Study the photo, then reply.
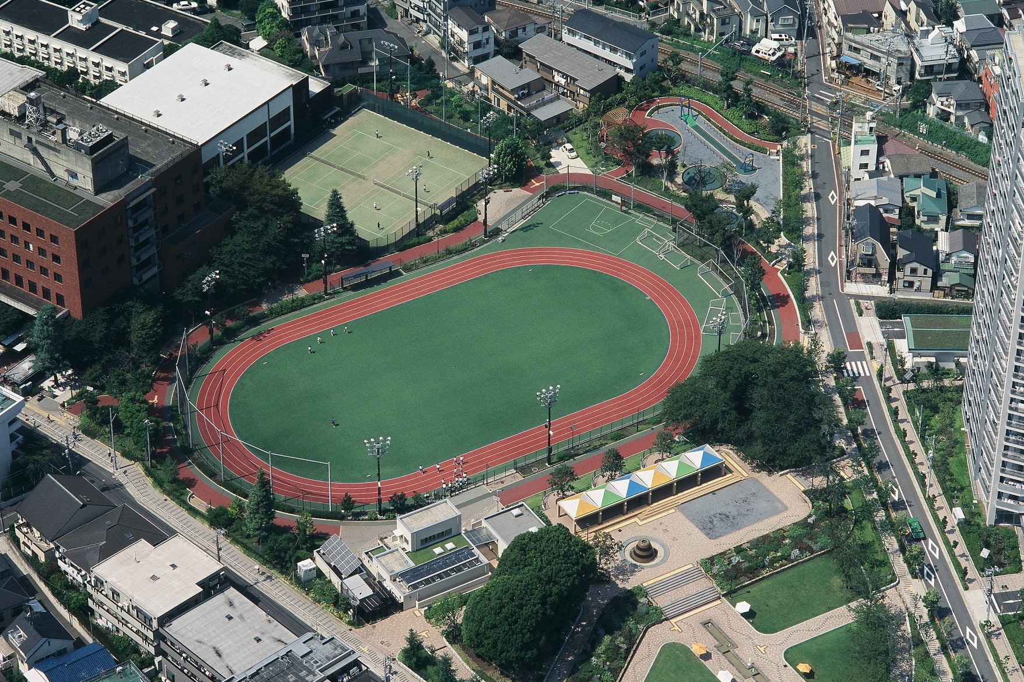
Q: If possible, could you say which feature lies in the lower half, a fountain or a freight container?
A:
fountain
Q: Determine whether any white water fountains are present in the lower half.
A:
No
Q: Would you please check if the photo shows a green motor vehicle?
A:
Yes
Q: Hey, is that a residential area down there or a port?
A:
residential area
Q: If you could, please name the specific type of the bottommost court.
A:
basketball court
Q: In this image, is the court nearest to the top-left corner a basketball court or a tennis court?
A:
tennis court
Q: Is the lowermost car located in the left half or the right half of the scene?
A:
right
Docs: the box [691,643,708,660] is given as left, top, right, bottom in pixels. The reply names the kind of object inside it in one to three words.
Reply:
umbrella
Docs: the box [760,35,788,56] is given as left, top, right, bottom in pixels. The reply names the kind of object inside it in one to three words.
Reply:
vehicle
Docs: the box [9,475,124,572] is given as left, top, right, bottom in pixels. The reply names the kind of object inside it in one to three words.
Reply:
house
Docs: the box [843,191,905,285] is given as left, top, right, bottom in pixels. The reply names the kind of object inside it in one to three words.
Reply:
house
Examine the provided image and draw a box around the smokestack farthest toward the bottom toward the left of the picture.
[54,122,68,143]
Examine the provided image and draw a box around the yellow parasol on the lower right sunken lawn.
[796,663,812,680]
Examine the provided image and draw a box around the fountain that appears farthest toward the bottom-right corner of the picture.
[623,540,666,571]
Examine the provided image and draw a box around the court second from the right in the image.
[340,156,467,238]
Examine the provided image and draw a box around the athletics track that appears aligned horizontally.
[199,247,698,503]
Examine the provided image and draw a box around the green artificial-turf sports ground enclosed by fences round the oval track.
[189,191,745,510]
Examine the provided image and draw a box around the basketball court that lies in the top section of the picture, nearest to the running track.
[551,199,637,255]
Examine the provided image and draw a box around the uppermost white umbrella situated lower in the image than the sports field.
[735,602,751,619]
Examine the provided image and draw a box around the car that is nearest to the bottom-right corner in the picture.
[906,518,927,541]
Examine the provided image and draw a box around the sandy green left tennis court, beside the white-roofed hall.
[272,129,401,209]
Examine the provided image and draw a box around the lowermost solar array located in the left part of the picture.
[321,534,361,577]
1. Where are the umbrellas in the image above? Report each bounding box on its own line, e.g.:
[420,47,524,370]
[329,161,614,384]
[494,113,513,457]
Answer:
[717,671,733,682]
[796,663,812,680]
[691,643,708,660]
[735,602,751,619]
